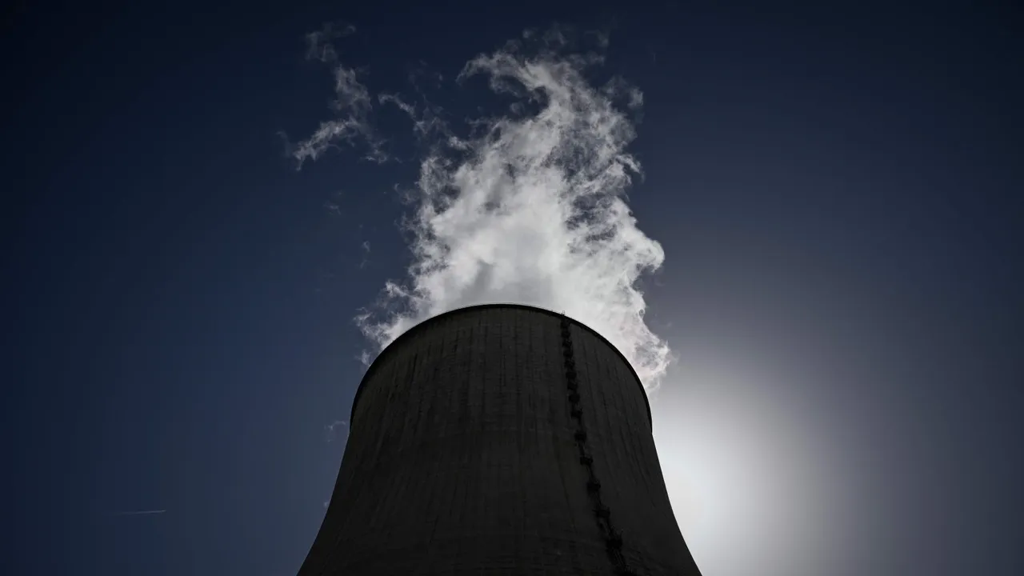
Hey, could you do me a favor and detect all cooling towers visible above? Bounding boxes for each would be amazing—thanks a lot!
[298,302,701,576]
